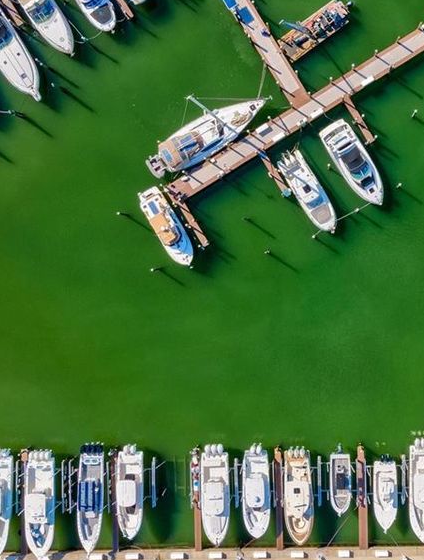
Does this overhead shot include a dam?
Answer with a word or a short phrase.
No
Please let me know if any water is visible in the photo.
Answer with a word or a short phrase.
Yes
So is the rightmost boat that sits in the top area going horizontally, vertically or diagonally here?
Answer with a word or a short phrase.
diagonally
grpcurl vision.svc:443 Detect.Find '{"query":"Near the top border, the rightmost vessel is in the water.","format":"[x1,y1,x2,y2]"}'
[279,0,349,63]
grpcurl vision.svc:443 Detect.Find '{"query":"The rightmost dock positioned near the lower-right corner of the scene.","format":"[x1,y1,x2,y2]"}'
[354,445,370,546]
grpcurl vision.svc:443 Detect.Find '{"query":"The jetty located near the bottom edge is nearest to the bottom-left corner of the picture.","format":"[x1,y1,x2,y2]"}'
[14,449,34,552]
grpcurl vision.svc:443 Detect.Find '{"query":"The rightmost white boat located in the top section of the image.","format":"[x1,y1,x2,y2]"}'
[317,114,386,209]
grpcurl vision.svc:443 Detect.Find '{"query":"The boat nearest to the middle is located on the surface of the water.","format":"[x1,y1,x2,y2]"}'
[137,186,195,269]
